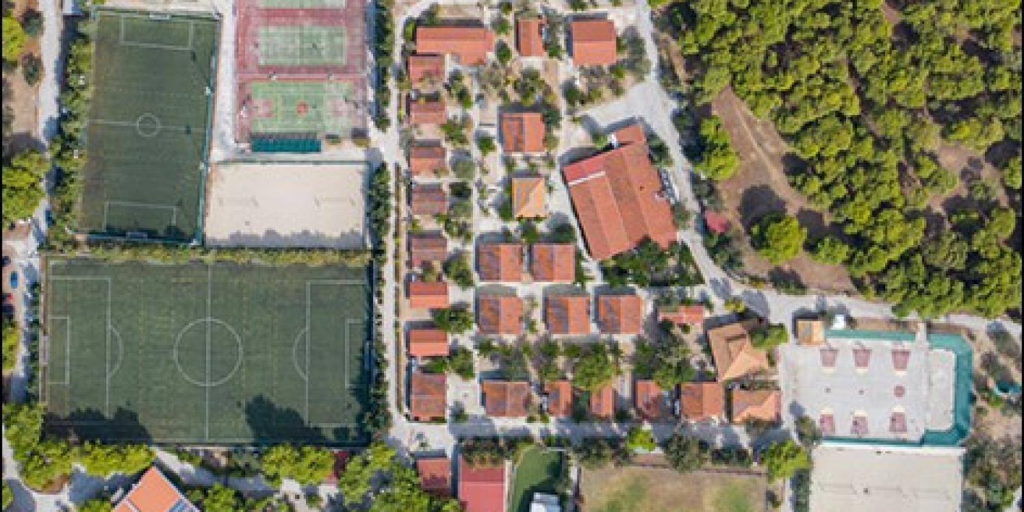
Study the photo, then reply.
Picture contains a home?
Yes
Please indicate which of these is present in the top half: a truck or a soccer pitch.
soccer pitch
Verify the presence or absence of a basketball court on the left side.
Yes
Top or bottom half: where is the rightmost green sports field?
bottom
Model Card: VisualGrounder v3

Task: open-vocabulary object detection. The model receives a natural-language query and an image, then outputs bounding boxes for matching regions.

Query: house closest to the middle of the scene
[479,244,522,282]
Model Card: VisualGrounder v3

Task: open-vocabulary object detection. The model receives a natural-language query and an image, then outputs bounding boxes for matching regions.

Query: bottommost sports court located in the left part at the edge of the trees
[205,161,365,248]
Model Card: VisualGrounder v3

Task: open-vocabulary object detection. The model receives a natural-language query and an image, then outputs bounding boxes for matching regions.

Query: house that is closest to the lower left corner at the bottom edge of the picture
[110,464,207,512]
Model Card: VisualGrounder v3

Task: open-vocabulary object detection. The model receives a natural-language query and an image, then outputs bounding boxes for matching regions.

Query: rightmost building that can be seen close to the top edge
[572,22,617,66]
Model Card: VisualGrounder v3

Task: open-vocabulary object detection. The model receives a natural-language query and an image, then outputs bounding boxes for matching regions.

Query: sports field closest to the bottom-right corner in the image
[580,468,766,512]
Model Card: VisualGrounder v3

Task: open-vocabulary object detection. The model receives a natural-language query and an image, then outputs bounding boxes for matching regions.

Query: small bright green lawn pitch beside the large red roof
[510,446,569,512]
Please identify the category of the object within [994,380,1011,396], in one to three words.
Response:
swimming pool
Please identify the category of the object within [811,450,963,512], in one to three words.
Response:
sports court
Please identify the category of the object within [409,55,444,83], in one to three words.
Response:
house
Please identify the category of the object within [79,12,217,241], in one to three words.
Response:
soccer field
